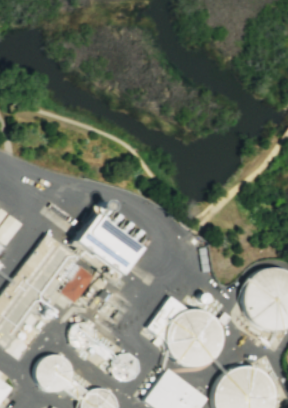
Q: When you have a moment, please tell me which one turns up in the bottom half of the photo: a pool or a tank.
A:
tank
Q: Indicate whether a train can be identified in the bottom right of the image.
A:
No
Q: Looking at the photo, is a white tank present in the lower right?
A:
Yes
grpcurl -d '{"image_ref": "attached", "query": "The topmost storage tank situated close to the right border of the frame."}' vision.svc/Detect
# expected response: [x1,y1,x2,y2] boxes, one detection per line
[240,266,288,332]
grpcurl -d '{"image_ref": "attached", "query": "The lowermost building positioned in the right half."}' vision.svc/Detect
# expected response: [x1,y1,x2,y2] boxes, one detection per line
[144,370,208,408]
